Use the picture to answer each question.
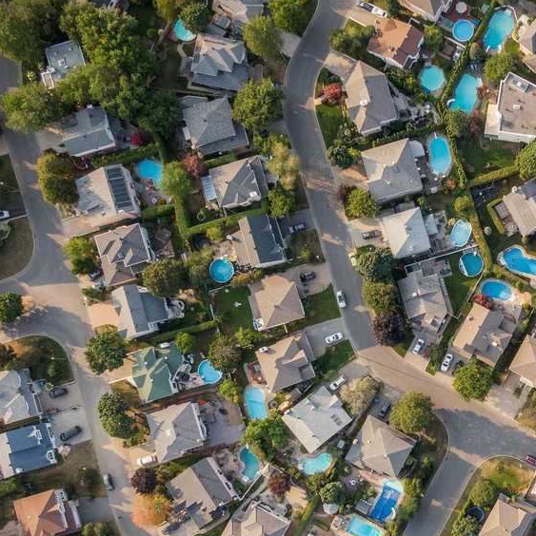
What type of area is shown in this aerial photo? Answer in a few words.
residential area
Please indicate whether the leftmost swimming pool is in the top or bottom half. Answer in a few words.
top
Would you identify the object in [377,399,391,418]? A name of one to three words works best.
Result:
vehicle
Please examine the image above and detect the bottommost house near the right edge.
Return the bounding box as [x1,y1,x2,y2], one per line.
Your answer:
[480,491,536,536]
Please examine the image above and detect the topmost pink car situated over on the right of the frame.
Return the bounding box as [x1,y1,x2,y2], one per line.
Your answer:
[522,454,536,467]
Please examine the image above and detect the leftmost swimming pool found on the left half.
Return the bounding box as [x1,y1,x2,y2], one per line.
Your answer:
[134,154,166,186]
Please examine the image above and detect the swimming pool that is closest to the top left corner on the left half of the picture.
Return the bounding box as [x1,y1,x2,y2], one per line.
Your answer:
[168,14,197,44]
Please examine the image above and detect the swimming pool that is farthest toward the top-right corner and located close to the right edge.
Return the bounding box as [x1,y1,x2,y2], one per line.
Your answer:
[480,8,515,50]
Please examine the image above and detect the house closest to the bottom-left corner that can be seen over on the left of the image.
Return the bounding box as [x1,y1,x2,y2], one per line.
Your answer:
[13,489,83,536]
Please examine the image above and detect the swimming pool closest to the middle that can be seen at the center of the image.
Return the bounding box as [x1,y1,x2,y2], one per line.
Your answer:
[210,258,235,282]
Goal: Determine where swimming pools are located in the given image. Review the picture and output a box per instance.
[478,277,514,303]
[210,258,235,282]
[448,71,483,112]
[342,513,387,536]
[460,251,484,276]
[298,450,333,477]
[480,8,515,50]
[197,359,225,388]
[451,17,475,42]
[450,219,472,247]
[500,244,536,277]
[134,154,166,186]
[426,137,453,178]
[240,383,269,423]
[417,63,447,93]
[168,14,197,44]
[367,484,402,528]
[236,445,262,479]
